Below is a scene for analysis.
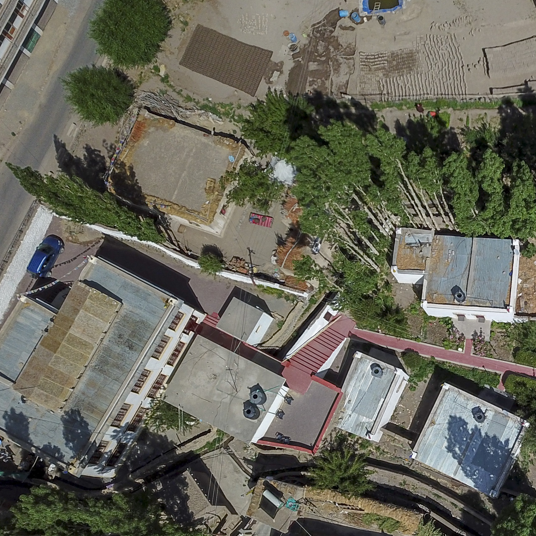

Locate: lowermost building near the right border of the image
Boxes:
[413,384,529,499]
